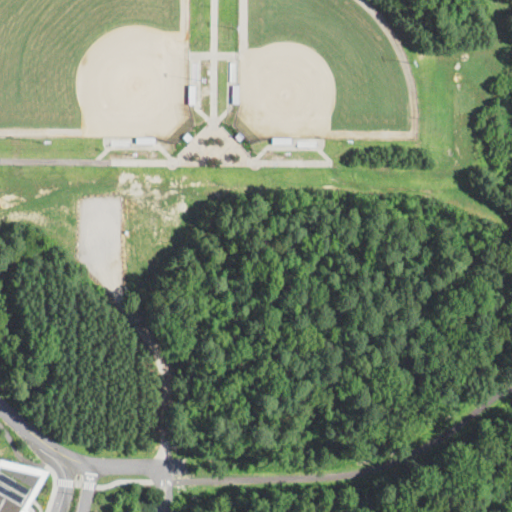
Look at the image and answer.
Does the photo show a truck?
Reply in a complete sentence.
No, the scene contains no truck.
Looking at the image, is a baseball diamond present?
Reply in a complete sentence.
Yes, I can see a baseball diamond in this picture.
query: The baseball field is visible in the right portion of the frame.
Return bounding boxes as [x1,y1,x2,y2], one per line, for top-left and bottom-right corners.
[236,0,418,141]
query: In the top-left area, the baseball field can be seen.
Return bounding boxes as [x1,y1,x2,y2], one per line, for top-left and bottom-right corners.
[0,0,192,140]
